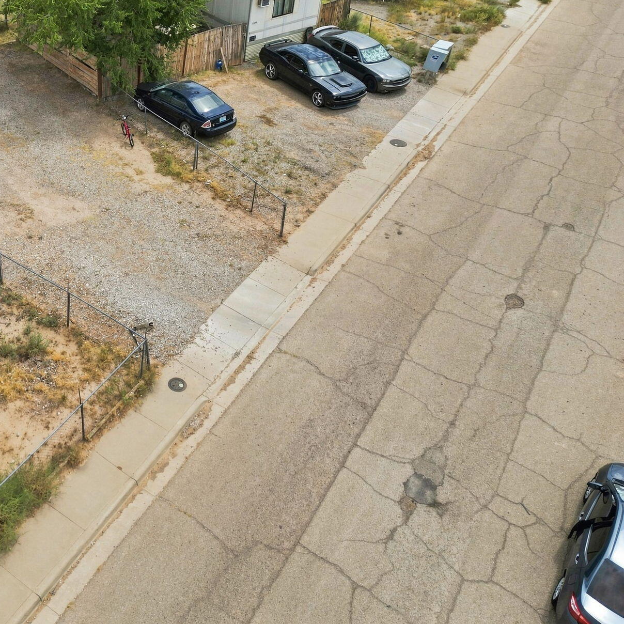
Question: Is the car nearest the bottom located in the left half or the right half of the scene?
right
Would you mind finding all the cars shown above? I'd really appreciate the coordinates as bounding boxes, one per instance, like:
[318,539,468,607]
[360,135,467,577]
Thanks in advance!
[549,453,624,624]
[258,37,372,111]
[131,73,240,141]
[304,23,418,90]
